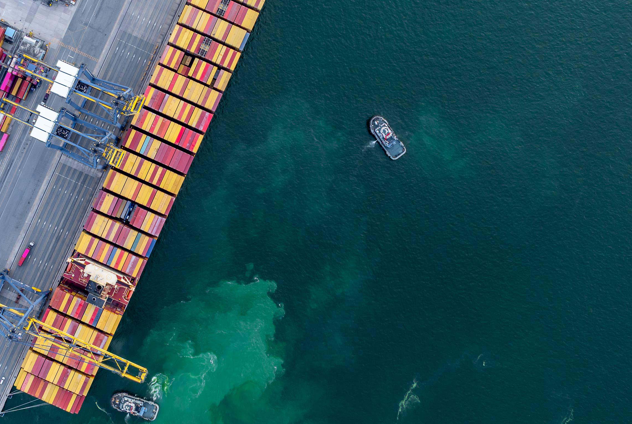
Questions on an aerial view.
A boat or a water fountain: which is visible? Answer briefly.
boat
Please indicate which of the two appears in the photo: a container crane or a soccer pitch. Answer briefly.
container crane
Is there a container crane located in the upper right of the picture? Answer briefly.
No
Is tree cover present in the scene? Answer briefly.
No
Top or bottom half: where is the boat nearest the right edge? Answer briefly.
top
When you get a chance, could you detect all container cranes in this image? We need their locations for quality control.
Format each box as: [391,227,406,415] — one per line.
[0,271,149,385]
[0,95,121,175]
[10,51,145,135]
[0,57,47,93]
